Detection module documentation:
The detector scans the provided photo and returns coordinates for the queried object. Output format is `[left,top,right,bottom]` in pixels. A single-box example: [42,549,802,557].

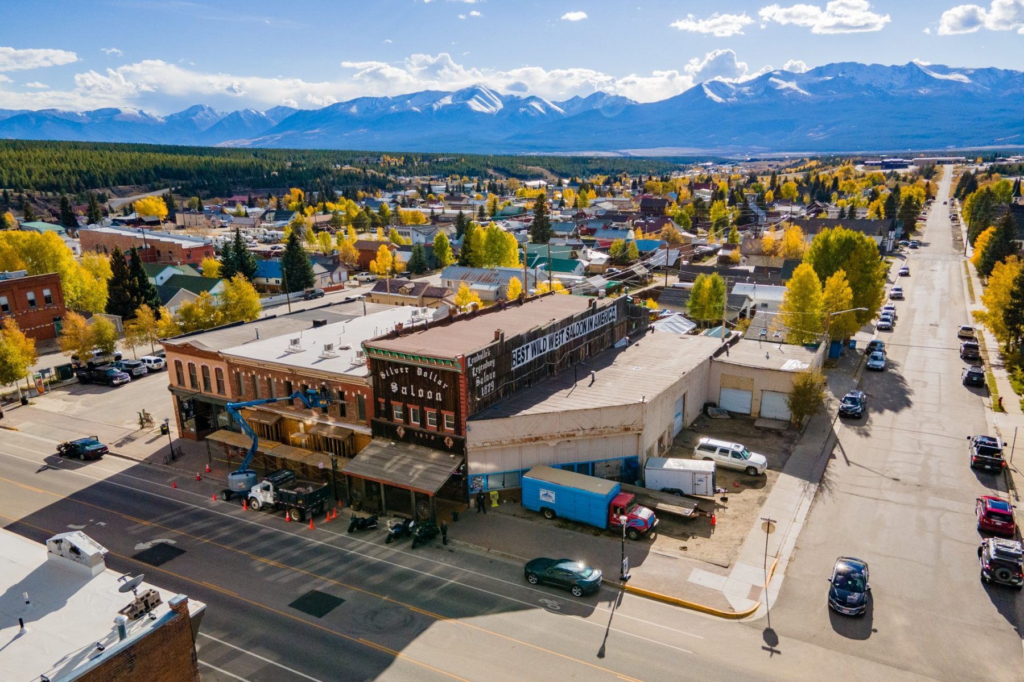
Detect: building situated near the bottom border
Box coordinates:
[0,525,204,682]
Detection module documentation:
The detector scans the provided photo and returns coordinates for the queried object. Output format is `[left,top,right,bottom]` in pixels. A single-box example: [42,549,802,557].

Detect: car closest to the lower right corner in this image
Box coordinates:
[984,535,1024,584]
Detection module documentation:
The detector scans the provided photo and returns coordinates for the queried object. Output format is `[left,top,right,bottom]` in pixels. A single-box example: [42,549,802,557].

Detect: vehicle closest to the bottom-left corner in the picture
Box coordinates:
[53,430,106,460]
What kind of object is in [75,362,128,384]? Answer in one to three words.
truck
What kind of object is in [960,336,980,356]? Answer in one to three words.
vehicle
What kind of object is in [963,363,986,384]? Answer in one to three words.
car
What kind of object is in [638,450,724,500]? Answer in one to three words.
trailer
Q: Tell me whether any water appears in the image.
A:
No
